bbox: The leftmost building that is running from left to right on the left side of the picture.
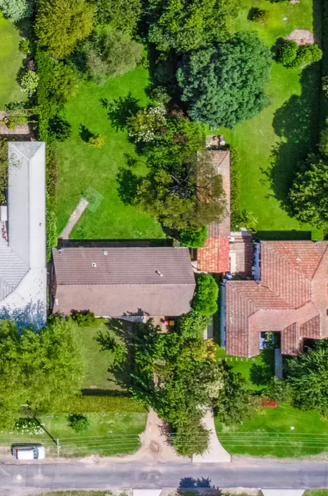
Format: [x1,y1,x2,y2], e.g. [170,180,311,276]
[50,246,196,316]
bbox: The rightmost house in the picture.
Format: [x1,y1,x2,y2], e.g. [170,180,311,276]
[218,240,328,359]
